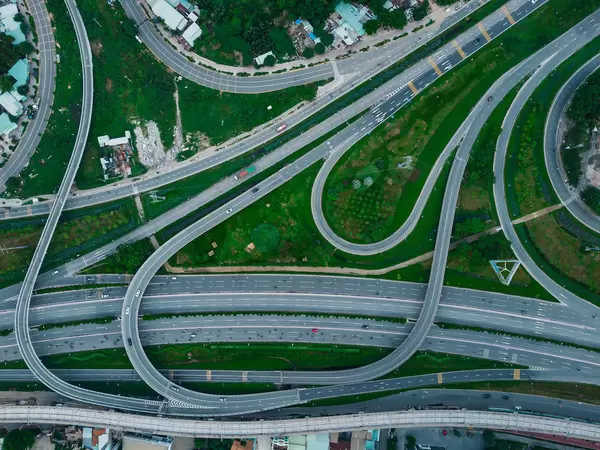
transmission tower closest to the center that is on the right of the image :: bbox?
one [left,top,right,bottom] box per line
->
[394,154,410,170]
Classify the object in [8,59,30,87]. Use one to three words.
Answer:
house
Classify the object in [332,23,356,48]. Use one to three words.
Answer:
house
